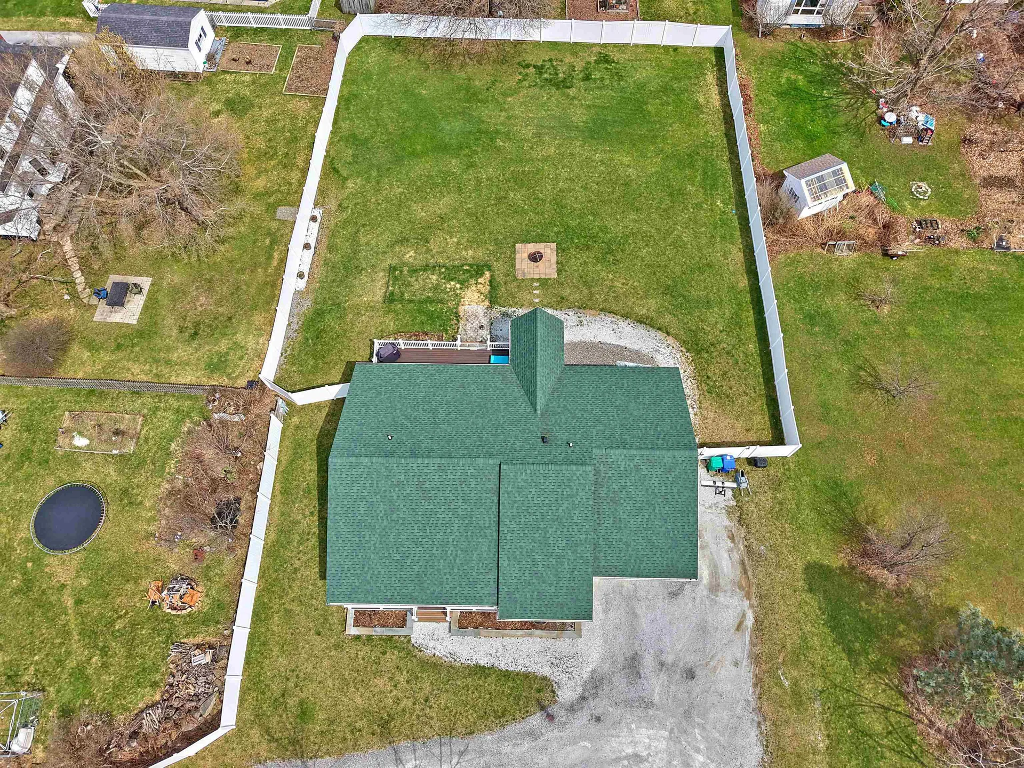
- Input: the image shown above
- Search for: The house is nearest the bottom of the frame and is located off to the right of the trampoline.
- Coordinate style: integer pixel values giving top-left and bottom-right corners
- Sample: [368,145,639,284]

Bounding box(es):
[327,307,699,622]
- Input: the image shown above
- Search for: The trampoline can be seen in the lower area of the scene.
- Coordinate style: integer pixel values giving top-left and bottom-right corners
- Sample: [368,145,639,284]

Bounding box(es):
[32,482,112,555]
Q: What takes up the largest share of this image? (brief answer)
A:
grass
